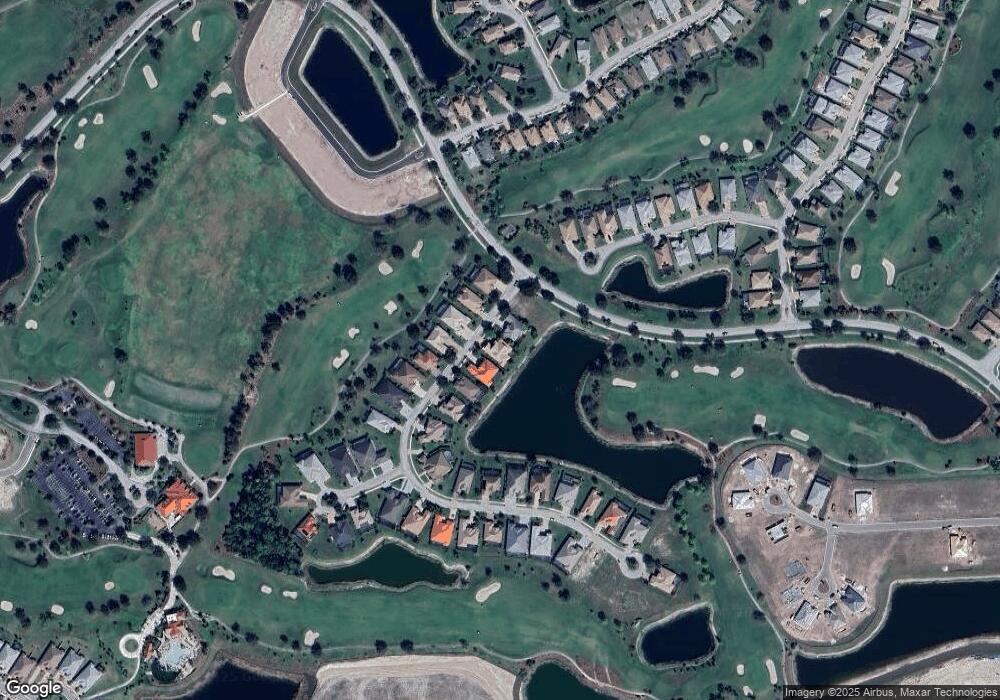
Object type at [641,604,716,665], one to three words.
pond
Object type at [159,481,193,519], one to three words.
building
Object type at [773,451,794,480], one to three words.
house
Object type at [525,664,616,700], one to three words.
pond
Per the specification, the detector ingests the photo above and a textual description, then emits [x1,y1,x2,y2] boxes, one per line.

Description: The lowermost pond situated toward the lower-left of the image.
[182,660,300,700]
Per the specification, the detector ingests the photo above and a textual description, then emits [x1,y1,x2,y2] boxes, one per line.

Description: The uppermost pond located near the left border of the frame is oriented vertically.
[0,175,49,287]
